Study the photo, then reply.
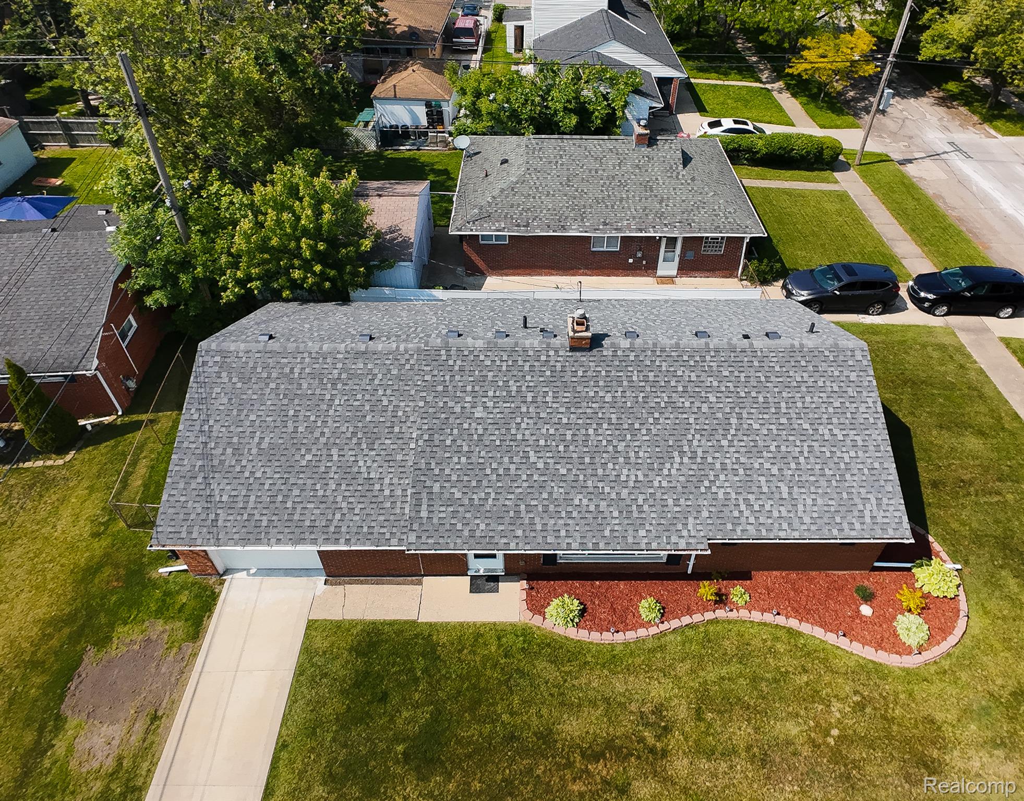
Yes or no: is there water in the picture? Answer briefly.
No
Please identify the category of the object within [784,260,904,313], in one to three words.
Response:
car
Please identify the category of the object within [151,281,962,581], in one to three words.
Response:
house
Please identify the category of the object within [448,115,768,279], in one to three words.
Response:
house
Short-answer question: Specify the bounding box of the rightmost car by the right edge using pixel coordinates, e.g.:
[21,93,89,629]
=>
[907,263,1024,316]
